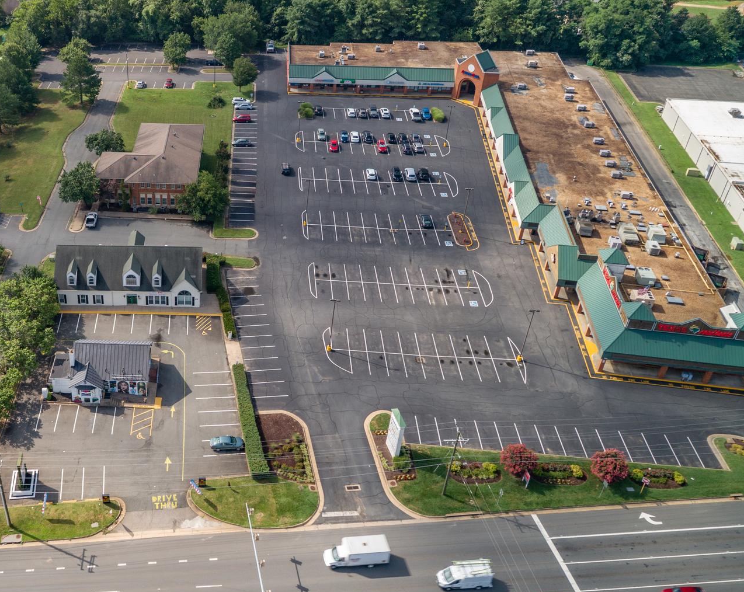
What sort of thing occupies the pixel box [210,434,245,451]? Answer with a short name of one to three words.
car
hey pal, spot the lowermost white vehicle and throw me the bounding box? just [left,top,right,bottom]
[440,557,498,590]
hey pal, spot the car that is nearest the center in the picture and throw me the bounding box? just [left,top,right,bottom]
[420,214,433,229]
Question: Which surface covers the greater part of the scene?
paved ground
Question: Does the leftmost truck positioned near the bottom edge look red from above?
No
